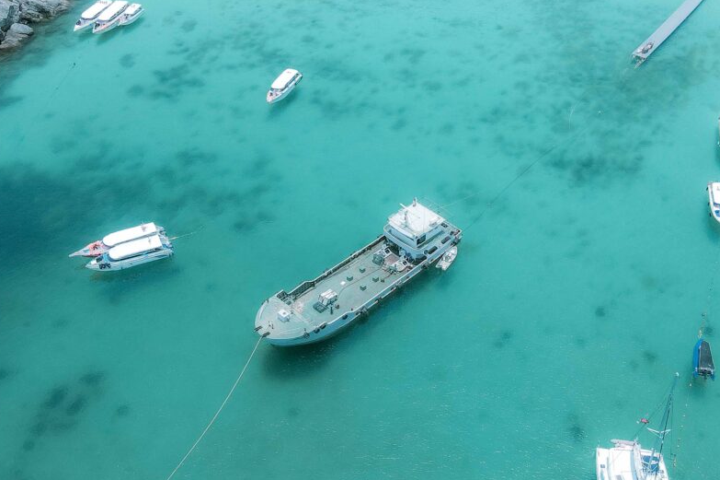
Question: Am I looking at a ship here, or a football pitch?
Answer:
ship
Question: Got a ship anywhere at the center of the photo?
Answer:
Yes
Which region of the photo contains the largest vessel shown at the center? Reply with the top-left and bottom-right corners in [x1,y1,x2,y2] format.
[257,194,466,348]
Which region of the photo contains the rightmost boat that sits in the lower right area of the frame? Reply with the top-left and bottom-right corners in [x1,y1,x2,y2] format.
[693,340,720,386]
